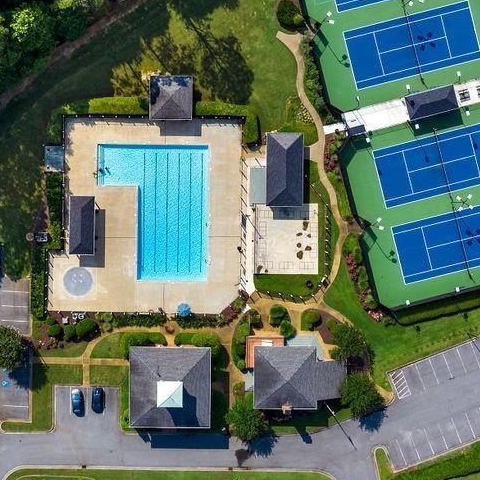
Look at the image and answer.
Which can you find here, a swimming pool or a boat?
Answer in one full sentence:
There is a swimming pool in the scene.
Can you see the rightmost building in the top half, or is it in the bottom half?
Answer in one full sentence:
Seen from above, the rightmost building lies in the top half of the view.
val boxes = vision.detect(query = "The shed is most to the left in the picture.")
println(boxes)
[44,146,66,173]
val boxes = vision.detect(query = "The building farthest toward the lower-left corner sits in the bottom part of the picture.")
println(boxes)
[129,346,212,430]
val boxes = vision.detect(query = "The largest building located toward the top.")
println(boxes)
[249,132,304,206]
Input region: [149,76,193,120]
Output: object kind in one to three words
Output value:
building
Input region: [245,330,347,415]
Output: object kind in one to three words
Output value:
building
